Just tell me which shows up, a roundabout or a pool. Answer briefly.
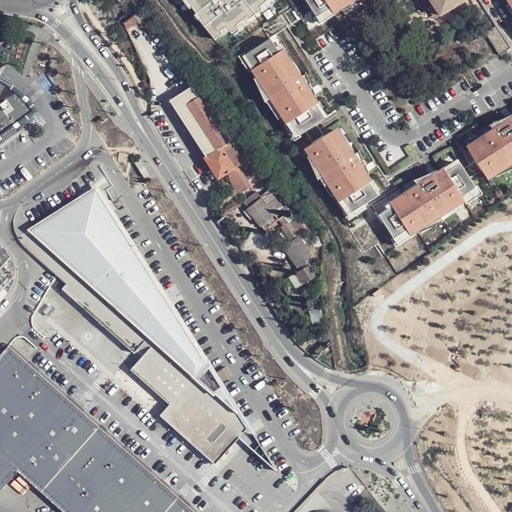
roundabout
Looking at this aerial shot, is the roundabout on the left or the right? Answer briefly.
right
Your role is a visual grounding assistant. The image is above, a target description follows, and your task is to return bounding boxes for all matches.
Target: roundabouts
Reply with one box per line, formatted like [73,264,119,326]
[328,377,414,463]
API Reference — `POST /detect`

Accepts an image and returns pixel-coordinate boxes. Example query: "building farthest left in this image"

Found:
[0,77,37,144]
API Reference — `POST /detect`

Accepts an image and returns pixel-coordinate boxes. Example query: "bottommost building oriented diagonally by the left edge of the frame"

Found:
[0,345,196,512]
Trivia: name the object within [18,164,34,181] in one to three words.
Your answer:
vehicle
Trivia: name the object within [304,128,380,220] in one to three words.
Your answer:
house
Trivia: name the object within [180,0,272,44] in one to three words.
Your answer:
building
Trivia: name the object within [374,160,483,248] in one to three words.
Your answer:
house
